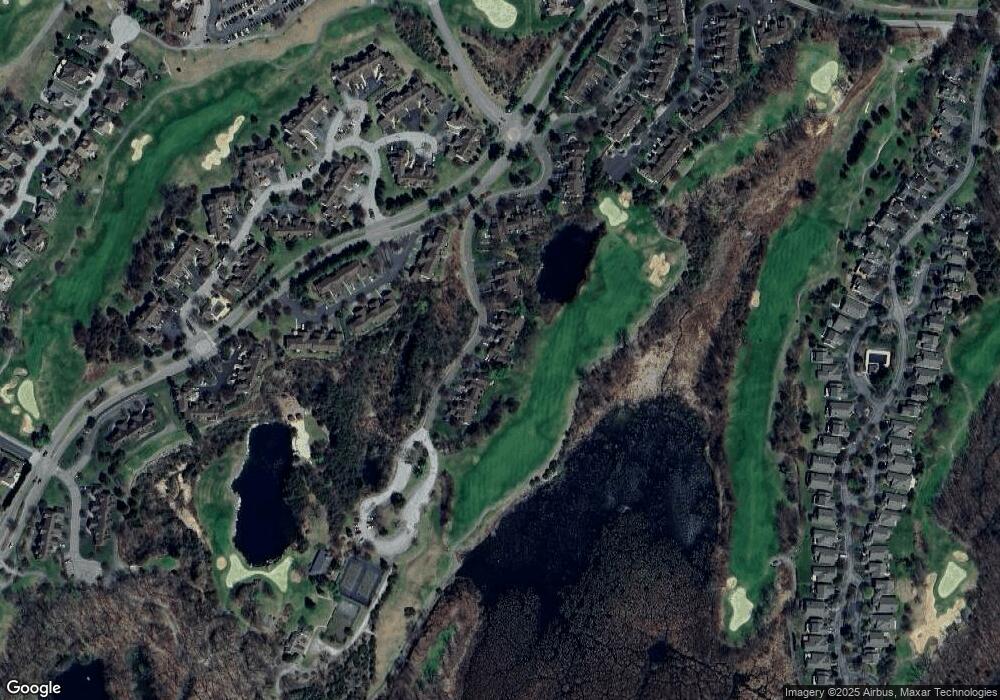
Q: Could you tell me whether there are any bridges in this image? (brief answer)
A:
No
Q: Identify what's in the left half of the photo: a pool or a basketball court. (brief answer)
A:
pool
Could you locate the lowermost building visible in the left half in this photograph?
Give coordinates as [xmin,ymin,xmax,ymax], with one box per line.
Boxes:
[289,630,311,653]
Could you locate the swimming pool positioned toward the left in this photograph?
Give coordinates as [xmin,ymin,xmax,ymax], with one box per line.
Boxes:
[209,299,230,320]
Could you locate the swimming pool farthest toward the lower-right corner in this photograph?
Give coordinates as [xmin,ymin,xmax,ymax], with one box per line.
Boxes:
[865,348,891,375]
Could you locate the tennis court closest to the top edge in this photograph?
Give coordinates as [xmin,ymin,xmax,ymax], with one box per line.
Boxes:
[340,557,382,605]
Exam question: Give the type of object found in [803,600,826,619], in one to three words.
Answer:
house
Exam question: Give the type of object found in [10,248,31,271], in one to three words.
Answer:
house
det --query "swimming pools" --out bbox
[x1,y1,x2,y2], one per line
[865,348,891,375]
[209,299,230,320]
